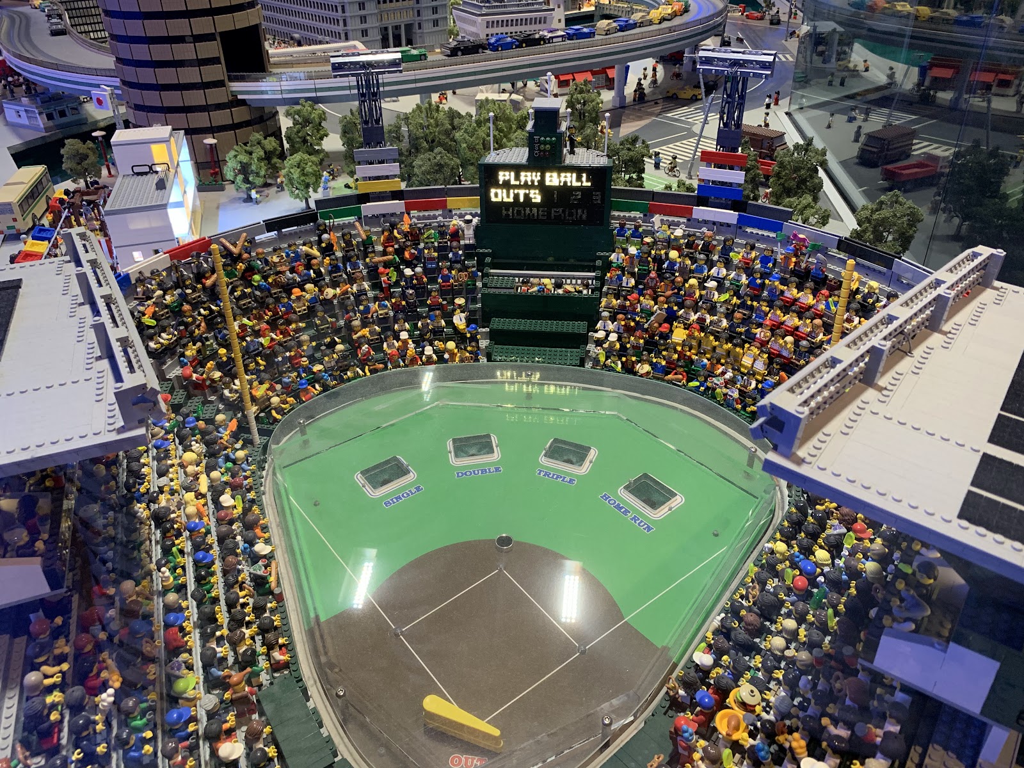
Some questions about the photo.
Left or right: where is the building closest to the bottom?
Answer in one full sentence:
The building closest to the bottom appears in the left half of the scene.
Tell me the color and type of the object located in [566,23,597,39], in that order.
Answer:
blue car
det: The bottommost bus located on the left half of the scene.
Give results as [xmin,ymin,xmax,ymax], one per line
[0,164,49,228]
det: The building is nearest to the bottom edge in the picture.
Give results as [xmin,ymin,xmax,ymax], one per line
[100,126,213,277]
